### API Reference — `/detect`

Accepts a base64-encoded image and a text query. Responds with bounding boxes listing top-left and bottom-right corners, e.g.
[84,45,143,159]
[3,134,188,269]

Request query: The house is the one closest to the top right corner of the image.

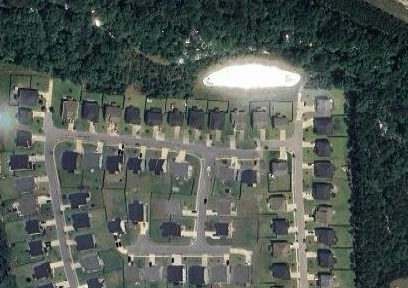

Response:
[315,97,335,116]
